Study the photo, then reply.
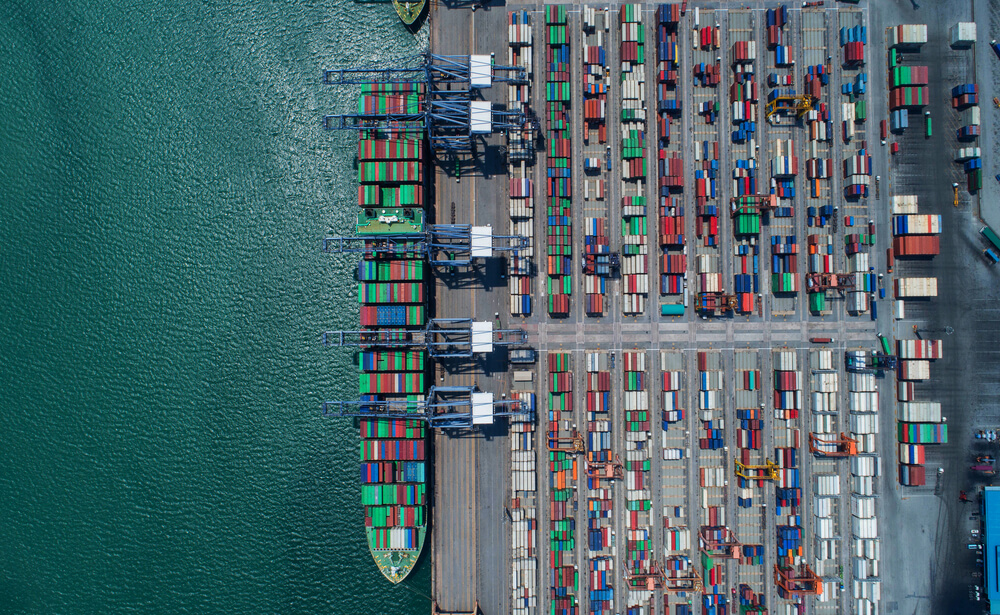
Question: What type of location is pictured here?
port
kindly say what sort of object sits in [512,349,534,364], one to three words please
building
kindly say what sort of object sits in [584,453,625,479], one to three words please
container crane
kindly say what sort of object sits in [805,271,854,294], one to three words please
container crane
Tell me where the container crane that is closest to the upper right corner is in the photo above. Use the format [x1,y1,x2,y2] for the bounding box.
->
[765,96,815,123]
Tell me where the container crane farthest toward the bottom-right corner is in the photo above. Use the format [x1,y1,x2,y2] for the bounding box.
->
[774,563,825,594]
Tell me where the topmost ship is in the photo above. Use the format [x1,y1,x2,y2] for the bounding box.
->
[391,0,427,25]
